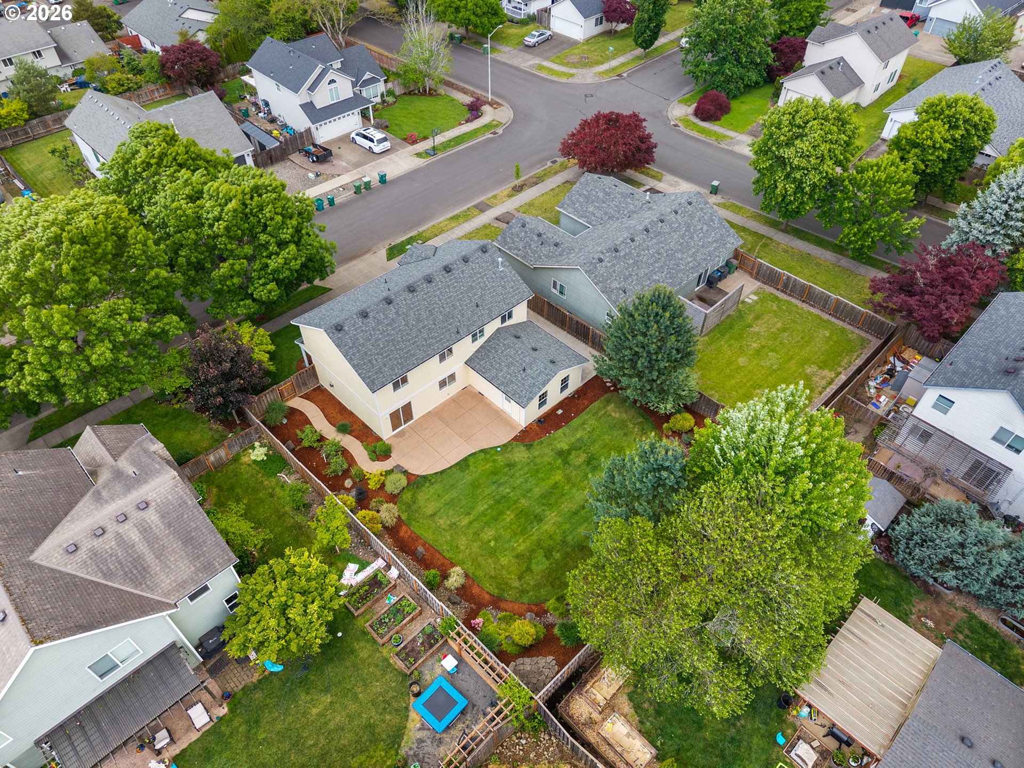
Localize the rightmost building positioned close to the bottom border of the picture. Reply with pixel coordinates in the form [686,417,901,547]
[878,642,1024,768]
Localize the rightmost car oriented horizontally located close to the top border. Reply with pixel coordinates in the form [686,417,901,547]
[522,30,550,44]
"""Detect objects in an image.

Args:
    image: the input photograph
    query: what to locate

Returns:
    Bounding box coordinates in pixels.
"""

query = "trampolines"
[412,676,468,736]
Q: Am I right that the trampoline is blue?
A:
Yes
